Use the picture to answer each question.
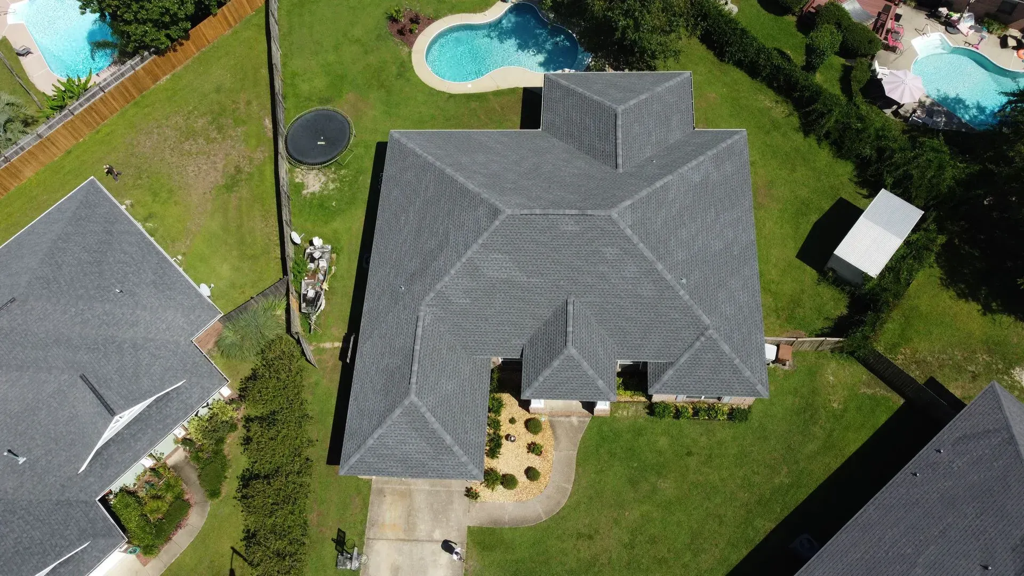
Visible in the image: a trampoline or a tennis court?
trampoline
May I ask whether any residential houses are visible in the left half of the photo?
Yes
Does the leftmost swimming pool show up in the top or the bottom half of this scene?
top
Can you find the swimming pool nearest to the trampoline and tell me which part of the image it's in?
top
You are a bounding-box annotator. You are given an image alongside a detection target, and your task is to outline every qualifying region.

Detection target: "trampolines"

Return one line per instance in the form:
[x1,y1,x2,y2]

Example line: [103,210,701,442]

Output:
[286,109,355,171]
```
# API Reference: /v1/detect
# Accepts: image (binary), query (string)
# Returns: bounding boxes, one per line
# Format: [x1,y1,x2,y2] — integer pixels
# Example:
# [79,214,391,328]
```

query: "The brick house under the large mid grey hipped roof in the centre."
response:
[339,70,770,483]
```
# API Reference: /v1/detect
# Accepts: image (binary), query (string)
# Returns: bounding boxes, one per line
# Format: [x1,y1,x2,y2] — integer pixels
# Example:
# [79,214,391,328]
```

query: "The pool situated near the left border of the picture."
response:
[5,0,122,80]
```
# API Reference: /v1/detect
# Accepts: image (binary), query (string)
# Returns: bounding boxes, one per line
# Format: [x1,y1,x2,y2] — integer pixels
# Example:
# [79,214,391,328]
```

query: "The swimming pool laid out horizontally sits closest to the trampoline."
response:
[424,0,592,83]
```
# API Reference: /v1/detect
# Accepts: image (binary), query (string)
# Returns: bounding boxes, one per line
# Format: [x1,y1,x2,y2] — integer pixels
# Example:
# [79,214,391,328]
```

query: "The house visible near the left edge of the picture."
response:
[0,177,243,576]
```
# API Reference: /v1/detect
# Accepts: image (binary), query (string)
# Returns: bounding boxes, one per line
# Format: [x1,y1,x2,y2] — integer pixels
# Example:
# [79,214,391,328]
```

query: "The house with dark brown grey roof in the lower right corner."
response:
[794,382,1024,576]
